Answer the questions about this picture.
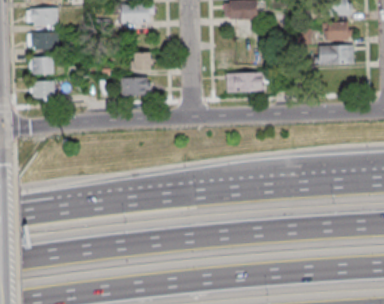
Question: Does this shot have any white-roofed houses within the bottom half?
No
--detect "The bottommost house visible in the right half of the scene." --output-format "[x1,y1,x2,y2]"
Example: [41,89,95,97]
[226,73,266,94]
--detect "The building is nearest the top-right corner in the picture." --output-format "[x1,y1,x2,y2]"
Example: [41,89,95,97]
[333,0,357,17]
